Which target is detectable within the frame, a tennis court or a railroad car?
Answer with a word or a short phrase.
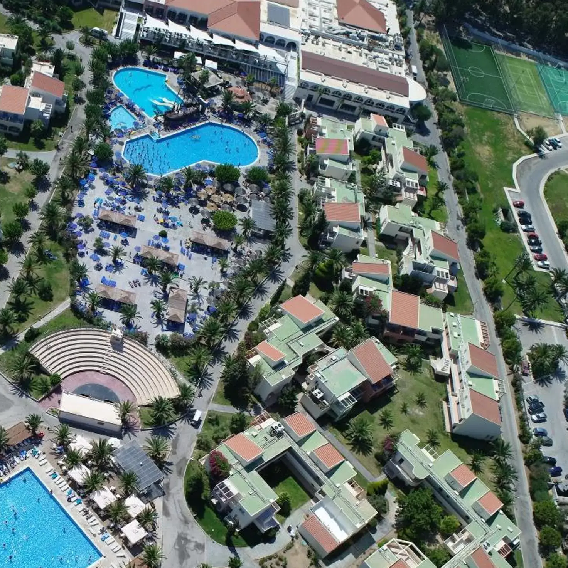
tennis court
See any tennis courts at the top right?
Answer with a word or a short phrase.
Yes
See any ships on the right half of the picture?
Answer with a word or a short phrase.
No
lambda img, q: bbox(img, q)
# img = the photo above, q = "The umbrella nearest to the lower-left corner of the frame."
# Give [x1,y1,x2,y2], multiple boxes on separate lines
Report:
[106,435,123,449]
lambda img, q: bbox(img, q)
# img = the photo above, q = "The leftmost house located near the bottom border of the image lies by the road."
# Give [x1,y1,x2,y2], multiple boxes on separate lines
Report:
[204,411,370,565]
